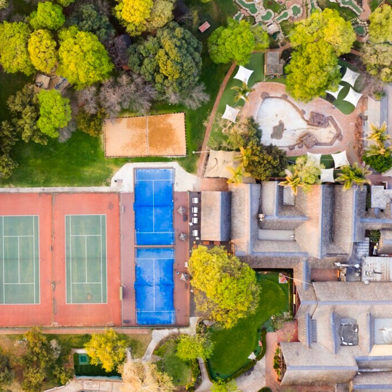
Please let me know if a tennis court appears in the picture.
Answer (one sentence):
Yes, a tennis court can be made out from above.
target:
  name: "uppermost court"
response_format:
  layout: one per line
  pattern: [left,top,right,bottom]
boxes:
[105,112,187,158]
